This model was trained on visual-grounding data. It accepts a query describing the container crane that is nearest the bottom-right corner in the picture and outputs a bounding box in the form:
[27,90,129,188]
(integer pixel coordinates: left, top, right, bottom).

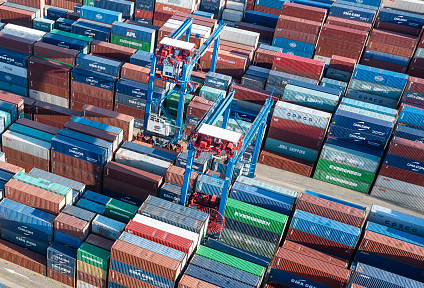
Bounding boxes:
[180,77,281,244]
